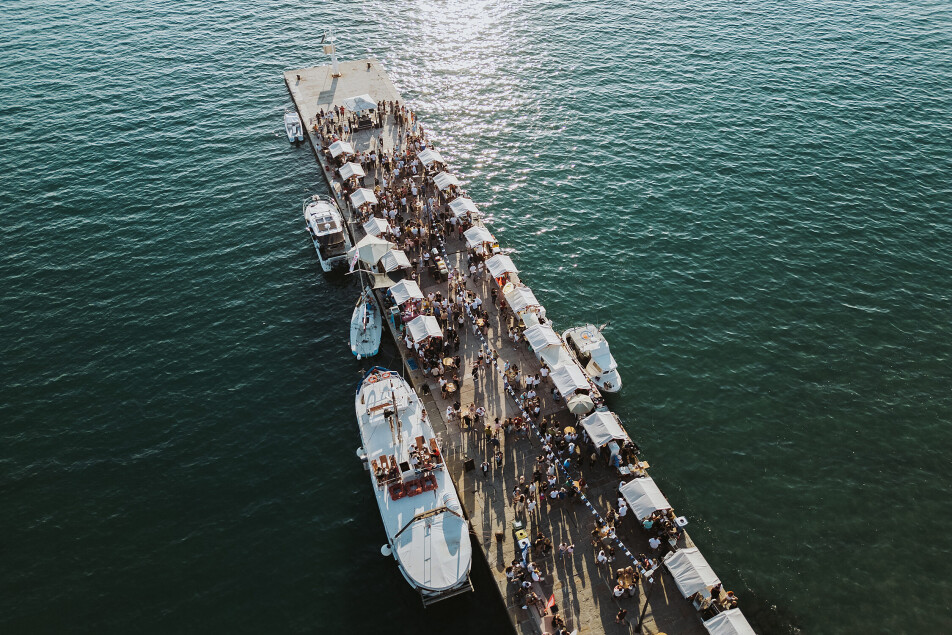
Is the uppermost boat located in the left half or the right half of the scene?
left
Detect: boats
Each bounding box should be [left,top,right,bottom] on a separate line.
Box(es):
[279,107,306,149]
[563,311,621,399]
[342,196,381,364]
[302,194,357,276]
[351,360,475,613]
